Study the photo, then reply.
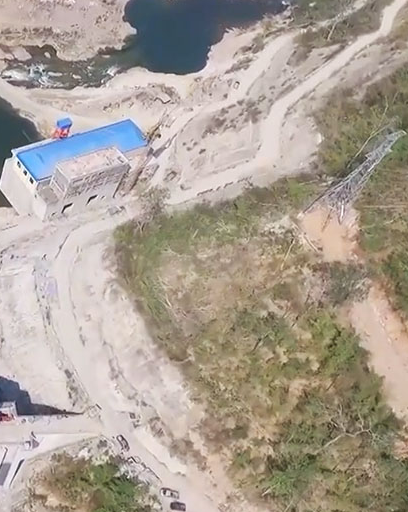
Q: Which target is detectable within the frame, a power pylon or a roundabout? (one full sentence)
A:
Visible in the photo is a power pylon.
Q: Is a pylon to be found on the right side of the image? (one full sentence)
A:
Yes, a pylon shows up on the right side of the image.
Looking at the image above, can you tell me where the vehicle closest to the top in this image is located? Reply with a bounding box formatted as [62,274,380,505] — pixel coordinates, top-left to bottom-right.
[116,433,129,451]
